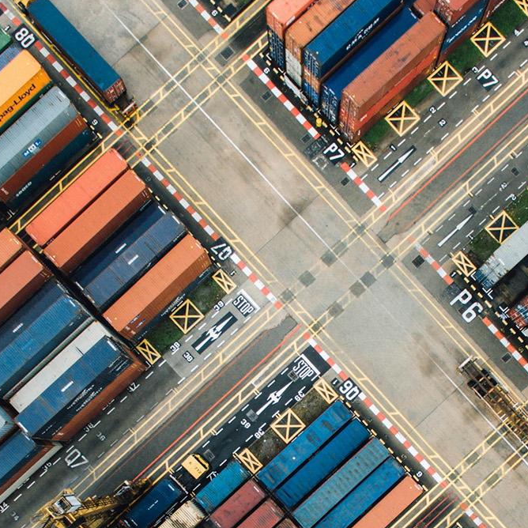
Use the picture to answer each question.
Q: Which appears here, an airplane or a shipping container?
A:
shipping container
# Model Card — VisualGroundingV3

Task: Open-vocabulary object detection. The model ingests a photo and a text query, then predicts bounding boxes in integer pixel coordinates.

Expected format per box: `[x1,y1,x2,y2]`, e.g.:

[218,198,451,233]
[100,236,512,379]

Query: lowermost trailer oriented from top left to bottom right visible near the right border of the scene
[457,355,528,447]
